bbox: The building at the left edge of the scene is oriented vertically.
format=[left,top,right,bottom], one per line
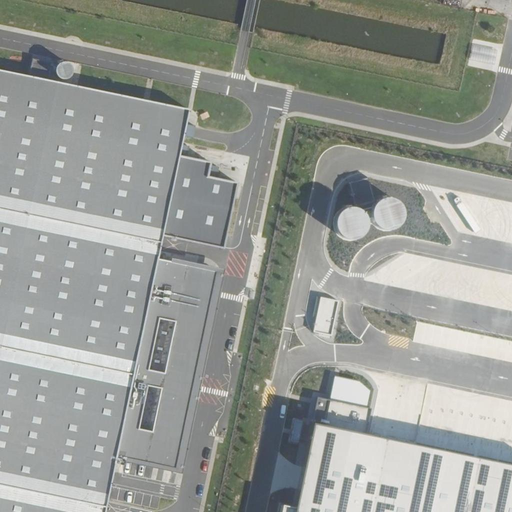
[0,70,188,512]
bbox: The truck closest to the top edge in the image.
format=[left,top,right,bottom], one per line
[454,196,480,233]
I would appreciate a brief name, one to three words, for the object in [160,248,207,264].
building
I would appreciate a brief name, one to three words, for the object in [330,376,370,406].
building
